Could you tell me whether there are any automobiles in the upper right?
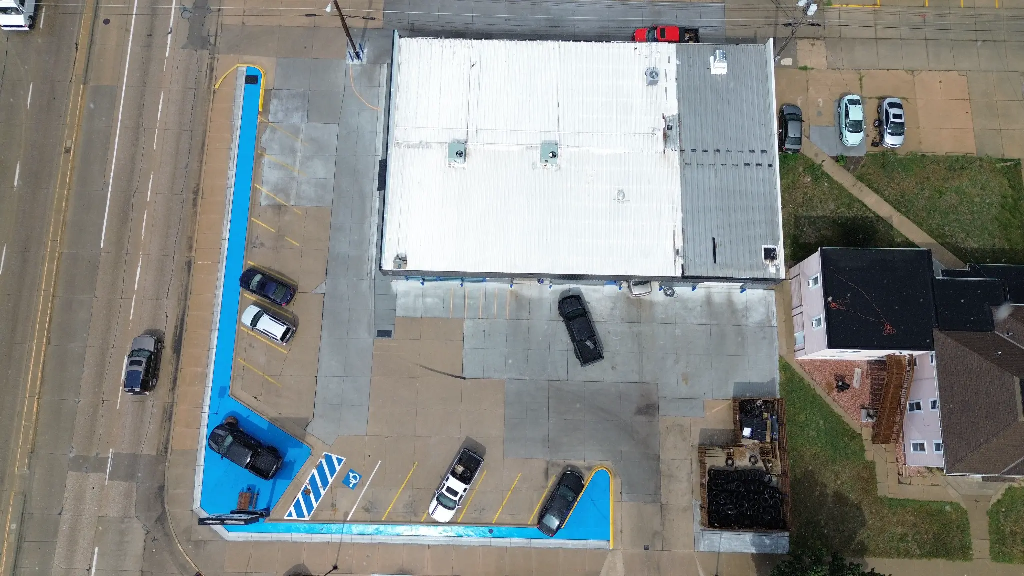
Yes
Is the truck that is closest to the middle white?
No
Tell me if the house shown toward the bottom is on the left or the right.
right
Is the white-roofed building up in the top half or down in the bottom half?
top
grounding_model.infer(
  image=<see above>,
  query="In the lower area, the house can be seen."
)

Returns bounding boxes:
[789,249,1024,494]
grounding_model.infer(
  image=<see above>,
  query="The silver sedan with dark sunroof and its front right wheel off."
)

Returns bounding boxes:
[880,96,910,150]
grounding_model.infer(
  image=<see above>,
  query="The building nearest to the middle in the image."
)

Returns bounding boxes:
[377,22,787,290]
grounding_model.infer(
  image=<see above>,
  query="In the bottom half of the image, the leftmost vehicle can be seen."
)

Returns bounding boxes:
[121,333,159,395]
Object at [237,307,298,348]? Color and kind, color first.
white car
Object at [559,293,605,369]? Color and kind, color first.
black truck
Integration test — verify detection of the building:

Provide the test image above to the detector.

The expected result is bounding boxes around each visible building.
[789,249,1024,494]
[377,22,787,290]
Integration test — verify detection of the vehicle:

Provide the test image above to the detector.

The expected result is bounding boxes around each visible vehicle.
[880,96,910,150]
[629,22,701,41]
[237,307,298,348]
[0,0,33,31]
[431,448,486,527]
[559,293,605,369]
[205,424,286,484]
[837,93,868,149]
[536,469,584,537]
[779,105,808,154]
[121,333,159,395]
[238,271,298,305]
